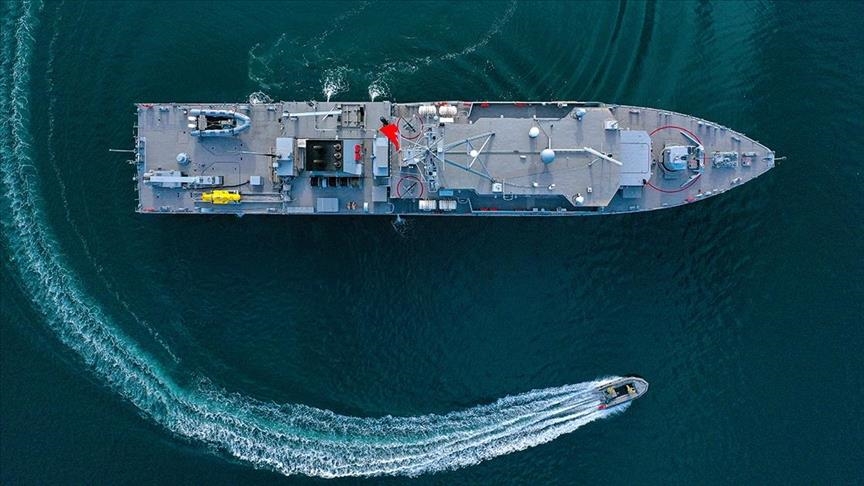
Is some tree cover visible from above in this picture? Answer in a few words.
No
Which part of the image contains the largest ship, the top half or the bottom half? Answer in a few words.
top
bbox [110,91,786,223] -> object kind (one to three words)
ship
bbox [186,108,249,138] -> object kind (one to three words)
boat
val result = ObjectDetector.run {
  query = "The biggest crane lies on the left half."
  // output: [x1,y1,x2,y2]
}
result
[145,169,251,190]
